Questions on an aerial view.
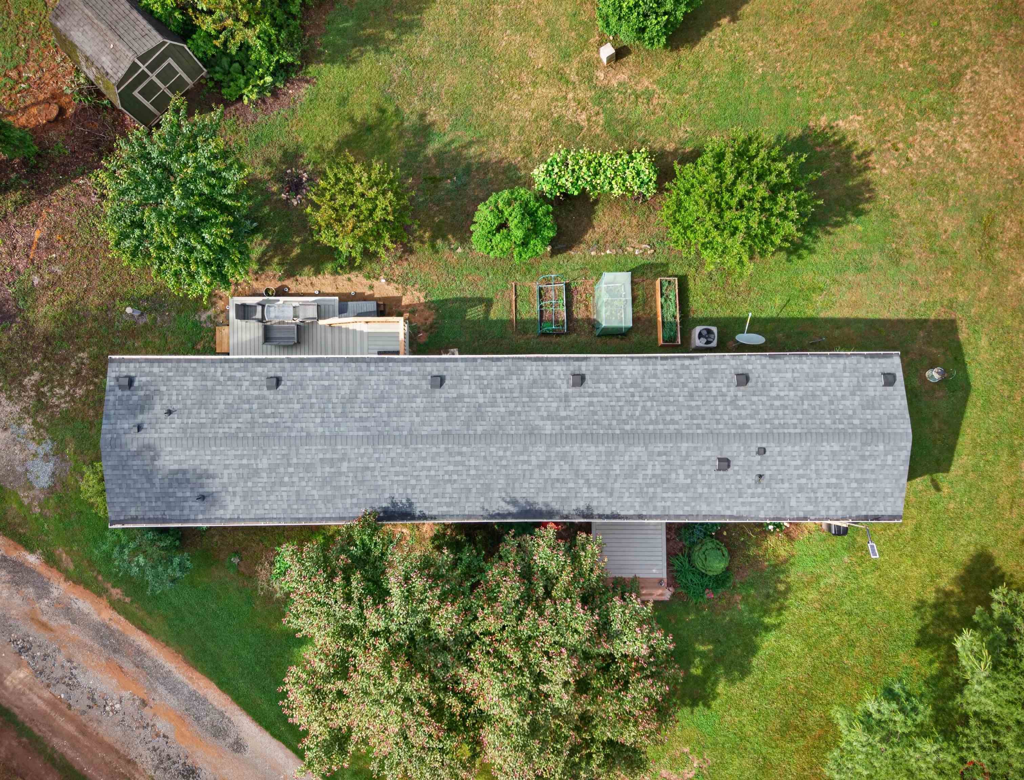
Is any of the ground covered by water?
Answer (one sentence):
No, water can't be seen anywhere here.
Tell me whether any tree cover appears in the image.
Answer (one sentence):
Yes, there is tree cover in the image.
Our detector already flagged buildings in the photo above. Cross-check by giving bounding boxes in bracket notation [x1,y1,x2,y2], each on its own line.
[49,0,208,127]
[99,352,911,527]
